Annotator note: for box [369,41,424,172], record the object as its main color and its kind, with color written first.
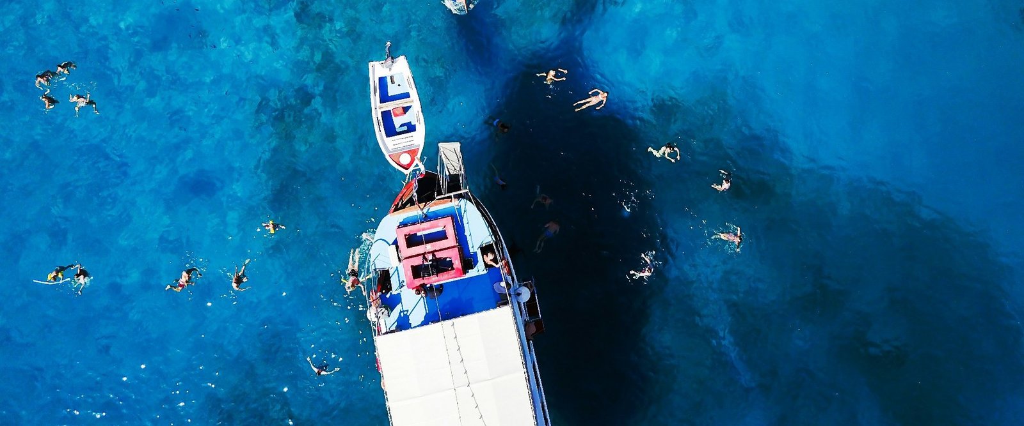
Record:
white boat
